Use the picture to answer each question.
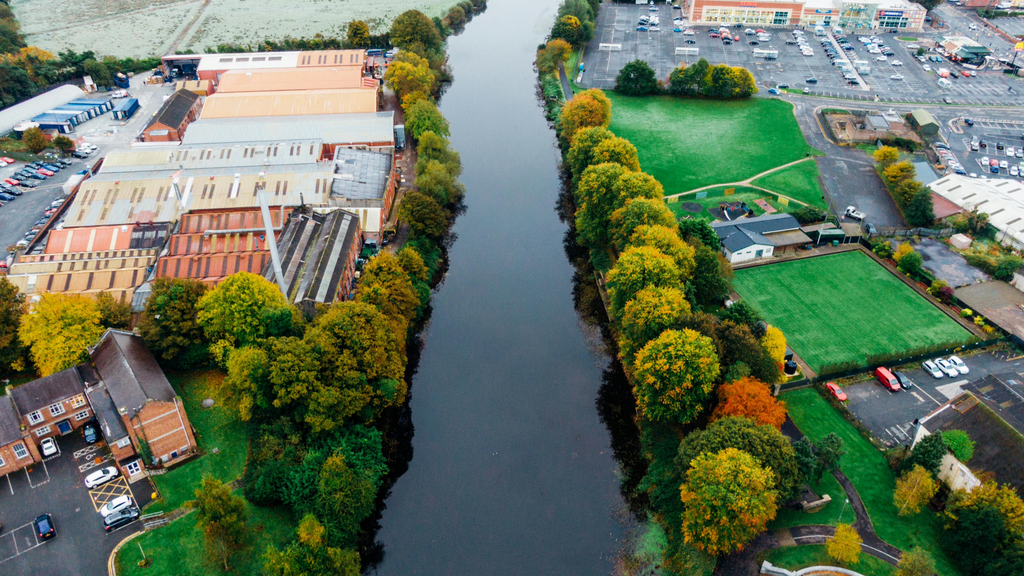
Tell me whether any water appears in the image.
Yes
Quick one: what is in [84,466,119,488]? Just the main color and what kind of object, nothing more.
white car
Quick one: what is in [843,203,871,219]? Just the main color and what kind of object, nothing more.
white vehicle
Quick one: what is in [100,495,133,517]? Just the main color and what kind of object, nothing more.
white car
